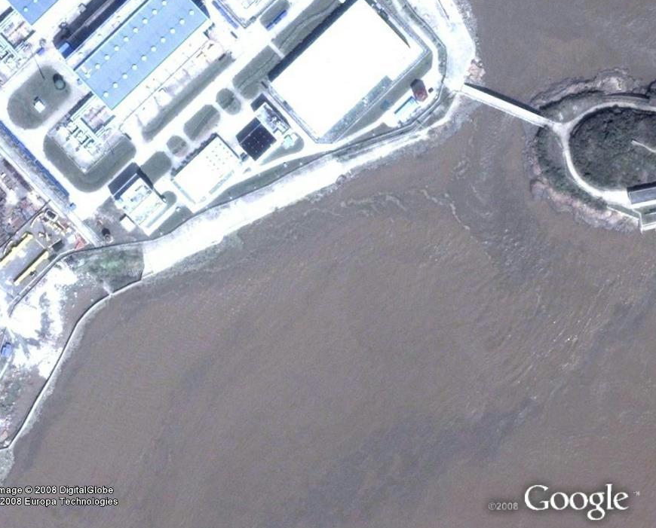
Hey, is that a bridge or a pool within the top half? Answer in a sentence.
It is a bridge that can be seen within the top half.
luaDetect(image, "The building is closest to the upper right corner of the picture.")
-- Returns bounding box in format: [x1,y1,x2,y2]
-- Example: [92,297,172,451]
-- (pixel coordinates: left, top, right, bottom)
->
[628,180,656,203]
